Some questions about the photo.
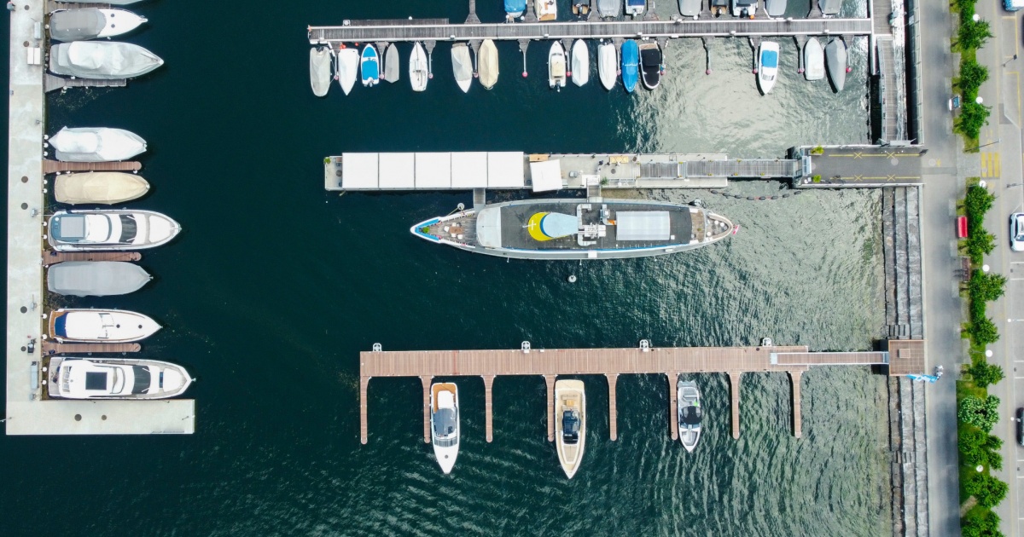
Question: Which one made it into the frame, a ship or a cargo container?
ship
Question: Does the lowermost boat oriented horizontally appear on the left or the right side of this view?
left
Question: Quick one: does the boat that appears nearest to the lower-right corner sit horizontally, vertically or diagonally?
vertically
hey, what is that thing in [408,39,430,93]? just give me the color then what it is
white boat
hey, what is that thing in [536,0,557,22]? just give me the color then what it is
white boat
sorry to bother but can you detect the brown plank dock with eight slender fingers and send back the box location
[360,338,808,444]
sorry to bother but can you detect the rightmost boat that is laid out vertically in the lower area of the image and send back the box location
[676,374,700,452]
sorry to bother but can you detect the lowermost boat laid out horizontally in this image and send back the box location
[43,351,194,401]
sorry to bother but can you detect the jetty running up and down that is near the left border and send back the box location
[6,0,197,434]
